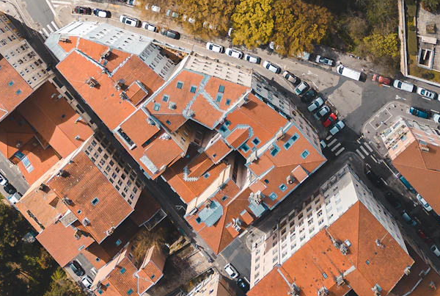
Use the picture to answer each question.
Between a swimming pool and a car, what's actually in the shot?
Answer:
car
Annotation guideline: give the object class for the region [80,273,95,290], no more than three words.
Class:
car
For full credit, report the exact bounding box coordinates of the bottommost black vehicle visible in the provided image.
[234,274,250,294]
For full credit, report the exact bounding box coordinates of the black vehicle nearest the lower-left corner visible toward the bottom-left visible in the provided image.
[70,259,85,276]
